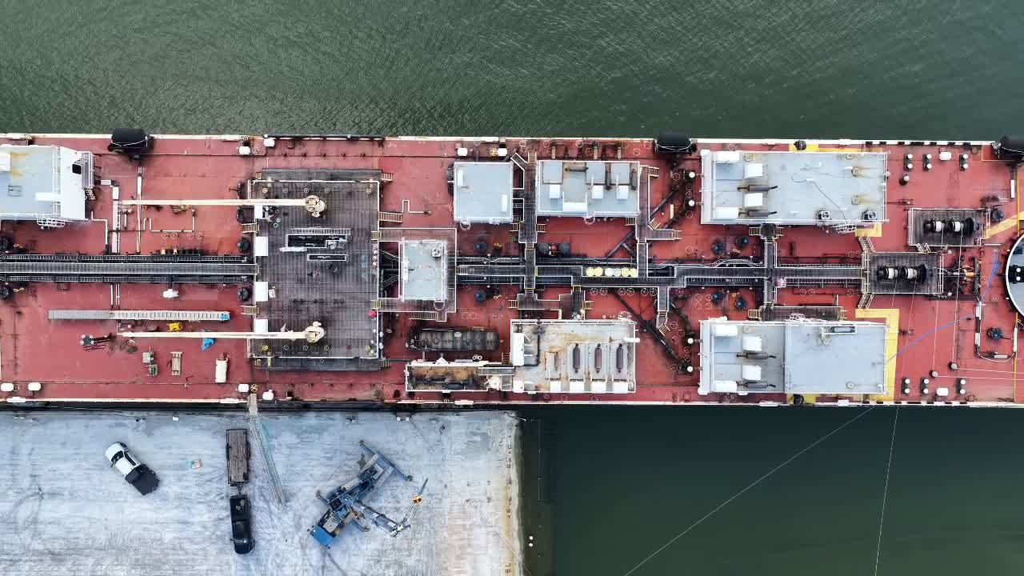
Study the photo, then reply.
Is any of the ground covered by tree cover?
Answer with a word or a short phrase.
No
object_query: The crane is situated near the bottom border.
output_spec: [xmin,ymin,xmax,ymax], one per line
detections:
[303,437,427,555]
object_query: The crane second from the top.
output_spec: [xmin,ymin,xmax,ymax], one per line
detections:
[115,317,332,341]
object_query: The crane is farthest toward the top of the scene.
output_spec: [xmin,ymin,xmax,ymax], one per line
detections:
[115,196,332,220]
